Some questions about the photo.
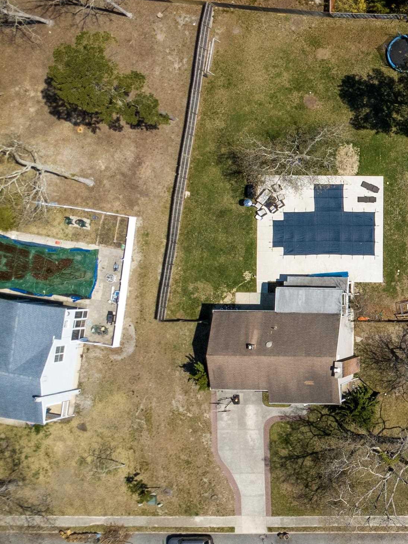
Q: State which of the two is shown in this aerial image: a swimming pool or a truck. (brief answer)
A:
swimming pool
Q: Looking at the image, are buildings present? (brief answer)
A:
Yes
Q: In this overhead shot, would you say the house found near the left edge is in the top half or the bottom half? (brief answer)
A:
bottom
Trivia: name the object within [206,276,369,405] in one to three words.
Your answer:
house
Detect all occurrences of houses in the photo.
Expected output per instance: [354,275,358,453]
[206,276,369,405]
[0,286,89,431]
